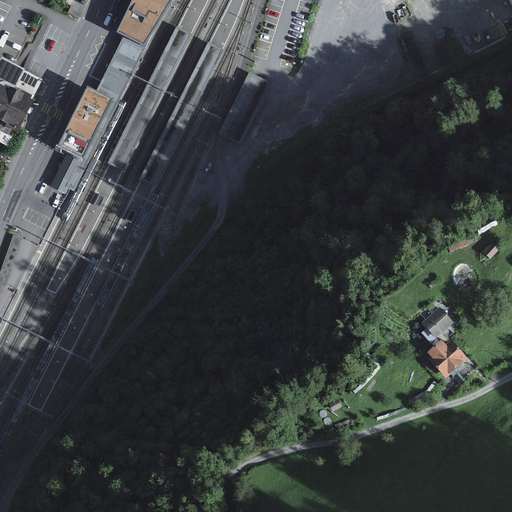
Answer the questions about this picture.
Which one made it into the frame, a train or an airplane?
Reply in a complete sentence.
Looking from above, you can make out a train.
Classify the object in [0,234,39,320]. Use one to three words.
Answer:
building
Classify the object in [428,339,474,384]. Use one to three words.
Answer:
house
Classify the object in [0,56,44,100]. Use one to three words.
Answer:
building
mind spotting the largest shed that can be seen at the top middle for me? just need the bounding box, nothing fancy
[220,72,268,142]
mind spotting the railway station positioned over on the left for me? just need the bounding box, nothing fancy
[0,0,244,410]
